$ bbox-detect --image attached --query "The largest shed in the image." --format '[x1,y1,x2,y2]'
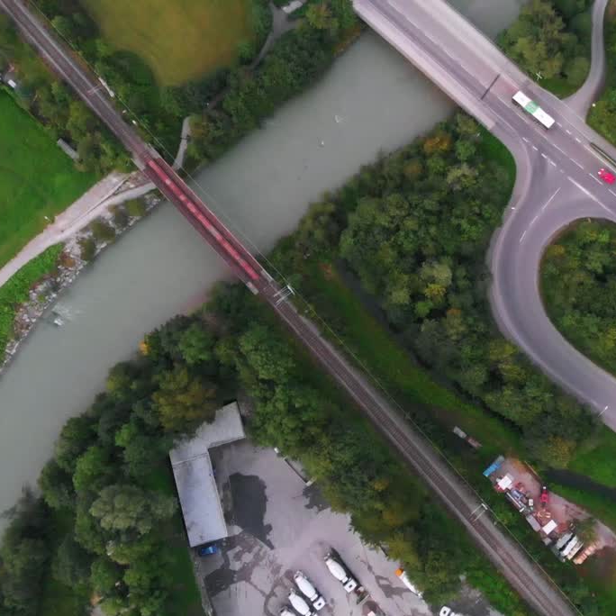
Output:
[169,402,248,548]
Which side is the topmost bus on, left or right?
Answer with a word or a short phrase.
right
